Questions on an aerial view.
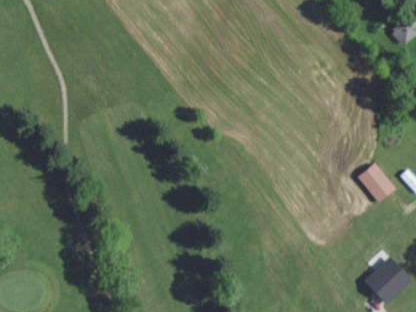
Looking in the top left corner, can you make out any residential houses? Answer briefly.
No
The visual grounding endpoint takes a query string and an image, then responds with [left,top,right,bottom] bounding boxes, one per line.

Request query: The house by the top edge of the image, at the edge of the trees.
[393,13,416,44]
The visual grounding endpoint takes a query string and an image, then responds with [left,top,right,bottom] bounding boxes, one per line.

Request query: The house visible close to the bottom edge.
[366,250,413,304]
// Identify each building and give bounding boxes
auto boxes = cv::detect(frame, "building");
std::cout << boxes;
[366,250,413,304]
[359,163,396,202]
[393,13,416,44]
[401,168,416,194]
